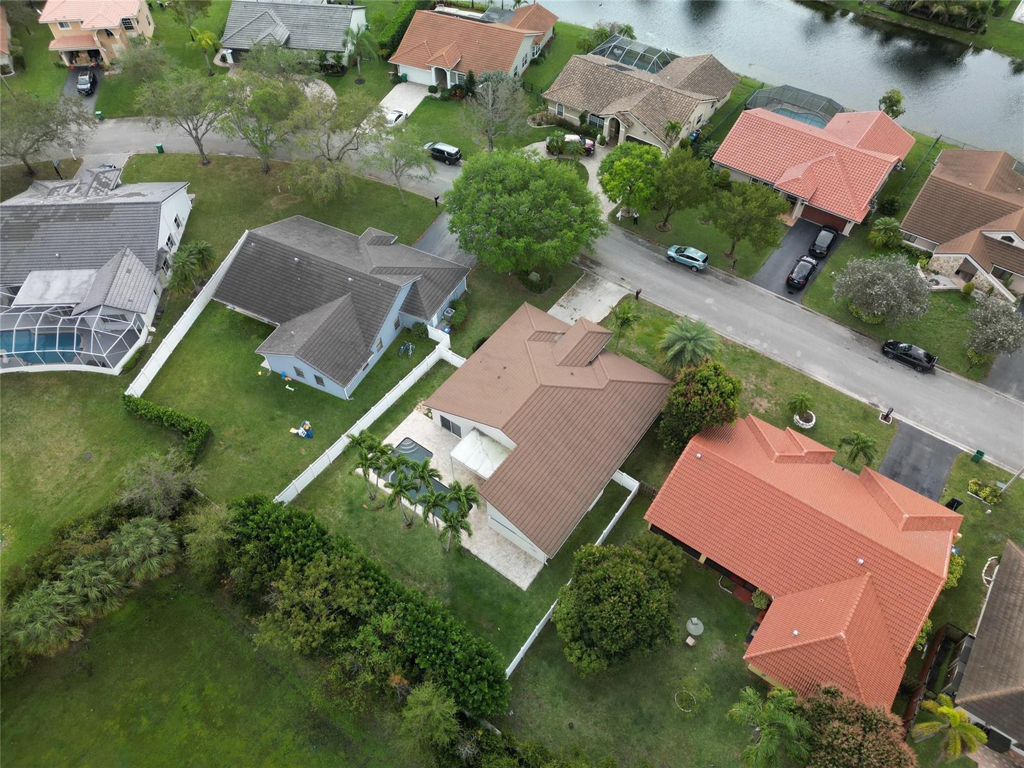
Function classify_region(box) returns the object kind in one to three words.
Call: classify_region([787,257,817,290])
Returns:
car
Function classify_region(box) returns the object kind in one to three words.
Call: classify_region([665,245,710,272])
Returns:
car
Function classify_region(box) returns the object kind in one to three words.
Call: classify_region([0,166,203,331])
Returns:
building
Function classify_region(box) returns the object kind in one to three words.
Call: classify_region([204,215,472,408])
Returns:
house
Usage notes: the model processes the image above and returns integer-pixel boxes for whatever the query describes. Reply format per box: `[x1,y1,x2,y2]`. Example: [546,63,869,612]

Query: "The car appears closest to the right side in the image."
[881,341,942,374]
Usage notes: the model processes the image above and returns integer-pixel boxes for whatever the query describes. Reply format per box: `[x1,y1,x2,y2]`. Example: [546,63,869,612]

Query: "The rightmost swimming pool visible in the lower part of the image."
[373,436,473,523]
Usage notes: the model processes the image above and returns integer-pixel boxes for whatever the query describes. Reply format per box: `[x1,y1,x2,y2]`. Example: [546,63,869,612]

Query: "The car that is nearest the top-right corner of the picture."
[806,228,836,260]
